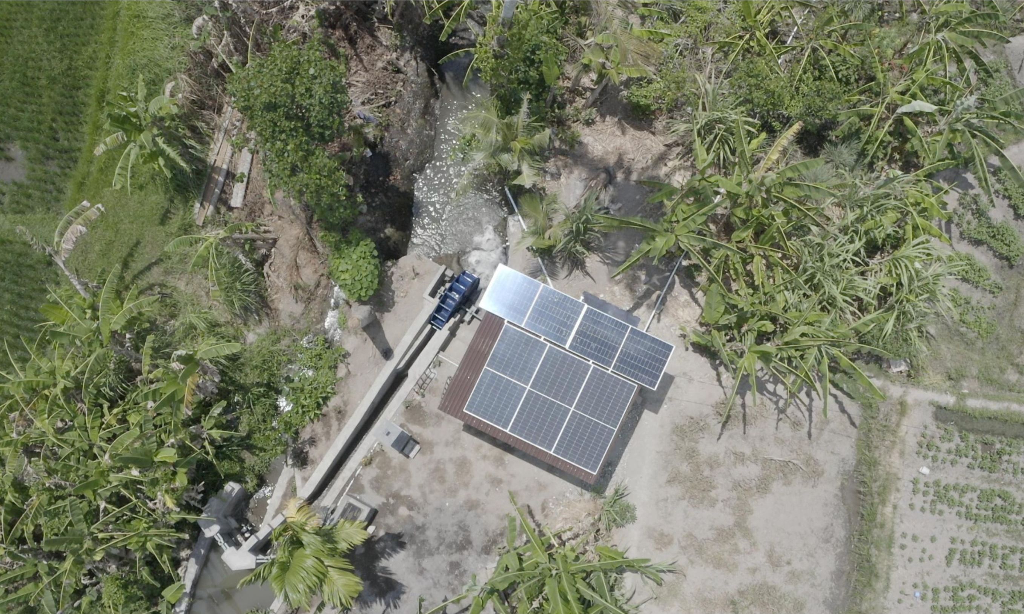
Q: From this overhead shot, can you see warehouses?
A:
No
